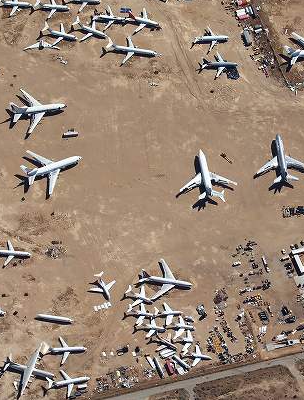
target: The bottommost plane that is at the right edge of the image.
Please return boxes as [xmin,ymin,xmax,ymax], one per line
[255,134,304,183]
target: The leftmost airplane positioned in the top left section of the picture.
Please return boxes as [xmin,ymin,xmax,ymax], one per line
[0,0,31,16]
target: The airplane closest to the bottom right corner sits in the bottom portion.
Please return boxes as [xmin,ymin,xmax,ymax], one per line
[181,346,211,368]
